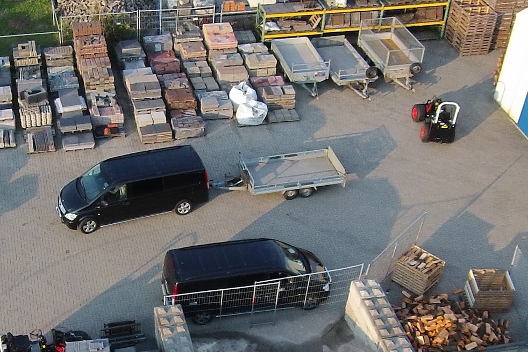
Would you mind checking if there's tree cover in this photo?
No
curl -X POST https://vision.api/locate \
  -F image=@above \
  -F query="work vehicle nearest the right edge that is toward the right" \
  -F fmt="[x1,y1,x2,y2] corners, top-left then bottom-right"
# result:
[409,82,468,142]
